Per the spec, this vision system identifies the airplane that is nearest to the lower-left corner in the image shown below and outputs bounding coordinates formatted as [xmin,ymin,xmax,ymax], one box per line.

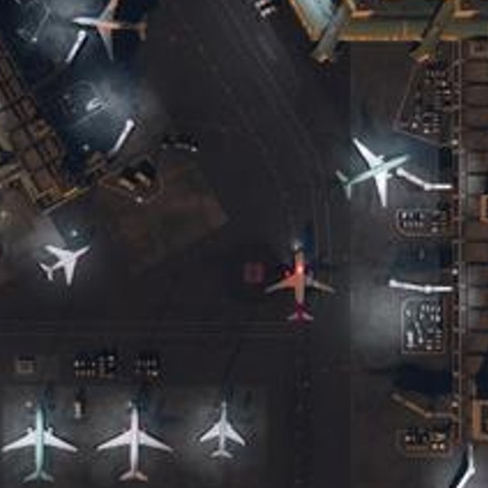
[0,408,77,486]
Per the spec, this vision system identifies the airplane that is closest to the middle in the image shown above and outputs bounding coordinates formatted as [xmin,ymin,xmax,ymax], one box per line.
[265,250,336,322]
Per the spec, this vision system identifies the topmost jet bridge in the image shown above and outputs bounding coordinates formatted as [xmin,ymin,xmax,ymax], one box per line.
[52,28,88,76]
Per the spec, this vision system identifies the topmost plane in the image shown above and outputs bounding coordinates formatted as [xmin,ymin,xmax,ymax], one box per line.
[73,0,149,60]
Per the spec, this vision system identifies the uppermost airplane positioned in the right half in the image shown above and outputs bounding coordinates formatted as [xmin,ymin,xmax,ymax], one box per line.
[335,138,408,205]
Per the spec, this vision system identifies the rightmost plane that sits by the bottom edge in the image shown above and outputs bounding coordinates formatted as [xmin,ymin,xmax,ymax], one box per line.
[199,403,247,467]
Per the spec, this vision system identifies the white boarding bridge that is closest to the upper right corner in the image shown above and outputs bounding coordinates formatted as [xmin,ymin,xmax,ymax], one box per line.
[395,166,450,190]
